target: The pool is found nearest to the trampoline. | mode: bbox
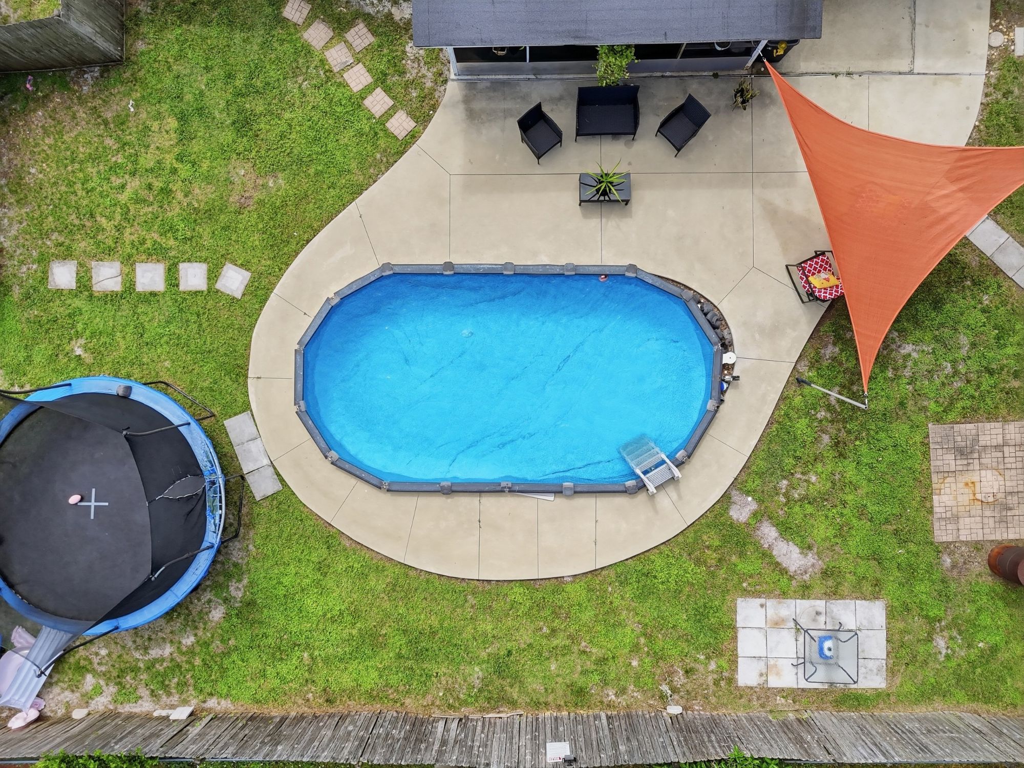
[294,262,722,495]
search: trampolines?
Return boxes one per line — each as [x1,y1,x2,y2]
[0,376,246,671]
